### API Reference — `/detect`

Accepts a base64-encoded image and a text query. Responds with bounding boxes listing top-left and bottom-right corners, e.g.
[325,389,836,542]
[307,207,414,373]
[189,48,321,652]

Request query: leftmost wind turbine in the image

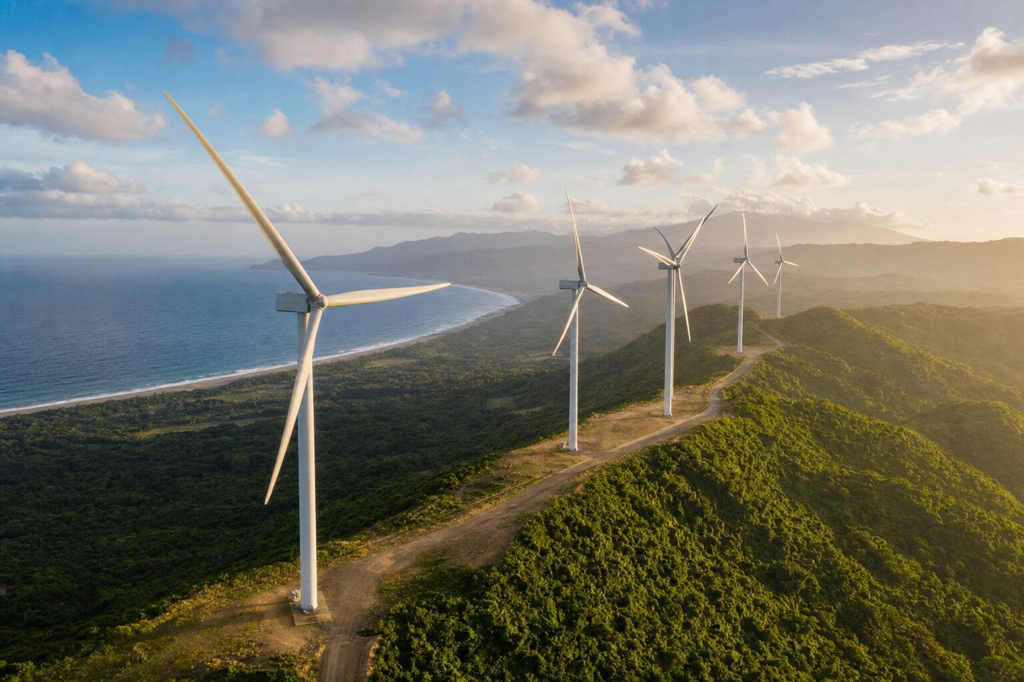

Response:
[158,89,448,615]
